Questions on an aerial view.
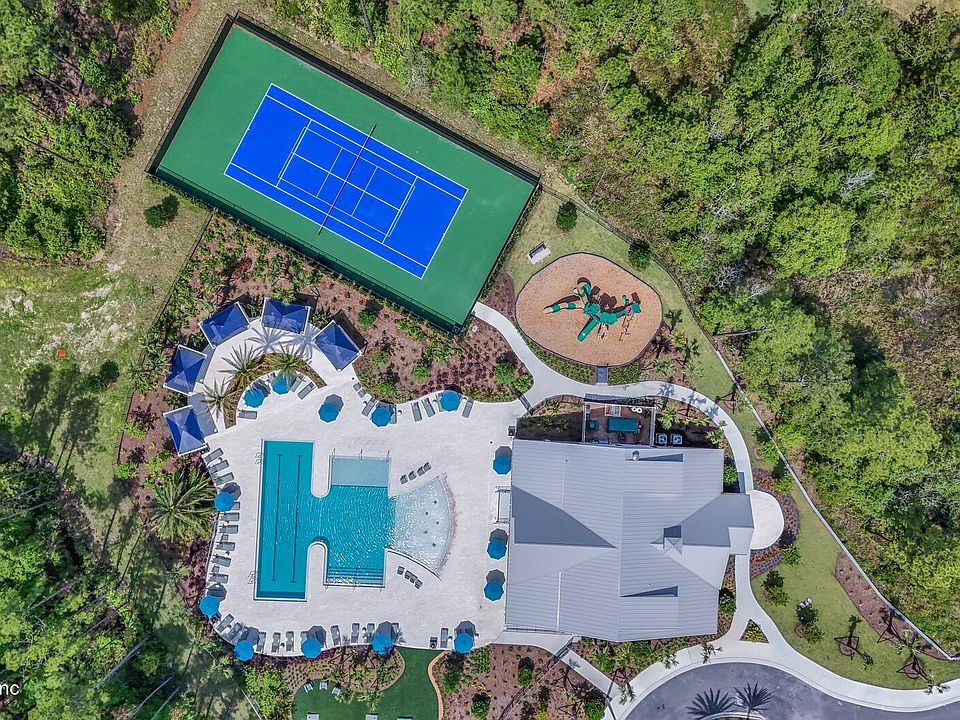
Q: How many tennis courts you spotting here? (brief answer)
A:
1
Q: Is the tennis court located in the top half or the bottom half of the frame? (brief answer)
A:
top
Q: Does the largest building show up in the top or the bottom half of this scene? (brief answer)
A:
bottom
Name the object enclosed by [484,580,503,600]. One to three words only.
umbrella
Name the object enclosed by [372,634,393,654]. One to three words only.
umbrella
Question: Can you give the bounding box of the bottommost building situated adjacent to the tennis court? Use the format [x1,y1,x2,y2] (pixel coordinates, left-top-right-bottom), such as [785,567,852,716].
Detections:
[503,439,754,640]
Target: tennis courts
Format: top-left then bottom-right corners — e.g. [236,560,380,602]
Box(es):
[157,25,535,334]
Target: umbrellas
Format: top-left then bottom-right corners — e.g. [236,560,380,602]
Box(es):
[454,632,474,652]
[301,638,322,658]
[487,538,507,559]
[234,640,255,661]
[273,373,292,393]
[201,595,220,615]
[371,406,392,427]
[214,490,235,511]
[372,634,393,654]
[484,580,503,600]
[245,386,266,407]
[319,402,339,423]
[440,390,459,410]
[492,455,512,474]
